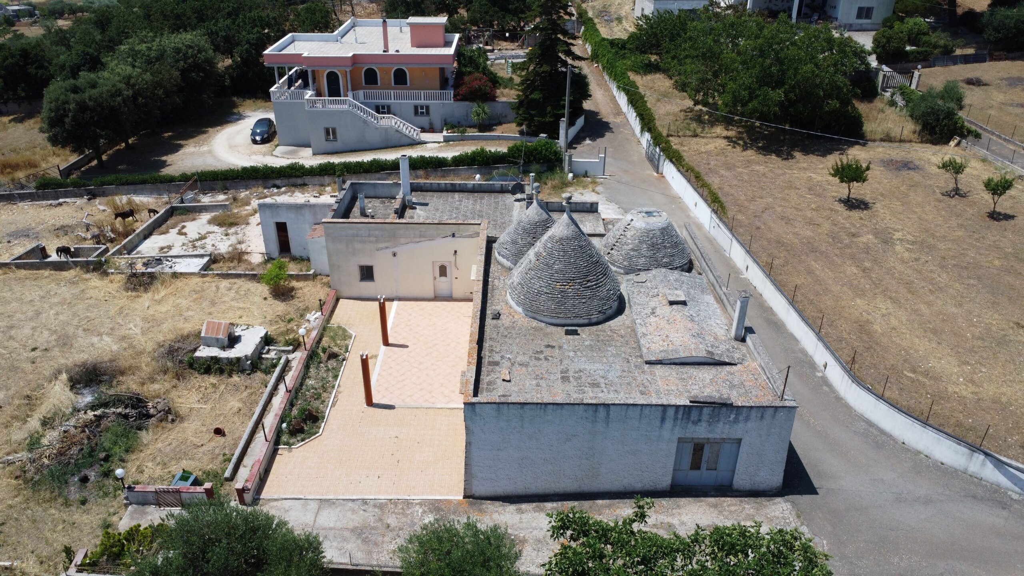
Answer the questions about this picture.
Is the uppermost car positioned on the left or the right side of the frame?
left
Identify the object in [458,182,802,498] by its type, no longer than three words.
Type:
building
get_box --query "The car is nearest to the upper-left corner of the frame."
[241,110,277,140]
